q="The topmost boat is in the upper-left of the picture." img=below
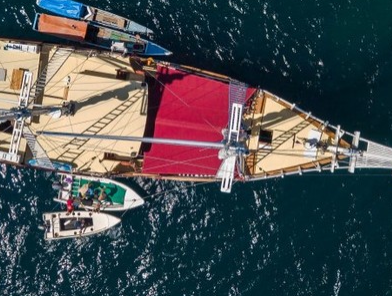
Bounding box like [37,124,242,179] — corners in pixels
[35,0,155,34]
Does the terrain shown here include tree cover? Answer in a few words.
No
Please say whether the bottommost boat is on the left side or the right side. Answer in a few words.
left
